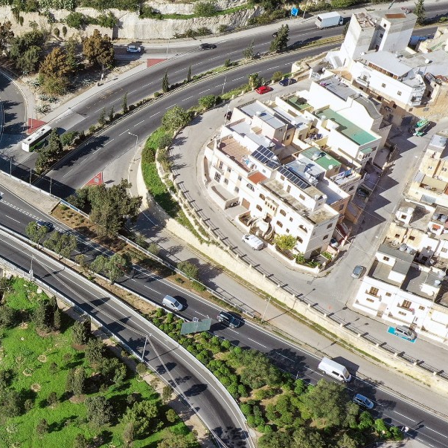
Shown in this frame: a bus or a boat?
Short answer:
bus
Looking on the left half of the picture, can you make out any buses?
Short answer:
Yes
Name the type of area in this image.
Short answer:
residential area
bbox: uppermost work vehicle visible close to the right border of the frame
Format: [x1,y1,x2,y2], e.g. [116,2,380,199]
[410,115,429,138]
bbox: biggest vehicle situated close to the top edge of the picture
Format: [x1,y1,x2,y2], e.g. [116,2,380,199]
[320,8,345,25]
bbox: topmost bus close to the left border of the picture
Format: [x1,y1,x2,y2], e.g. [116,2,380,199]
[19,119,55,152]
